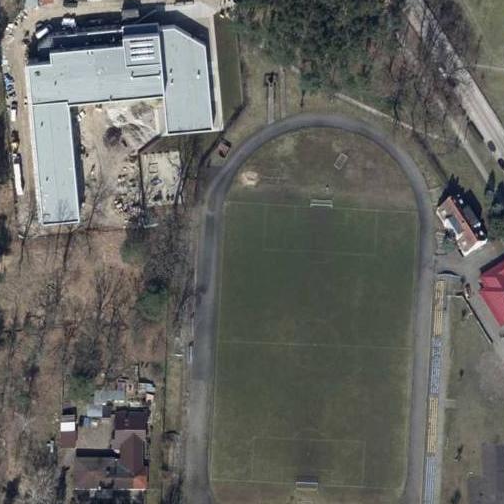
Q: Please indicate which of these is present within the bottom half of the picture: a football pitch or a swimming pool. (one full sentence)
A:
There is a football pitch within the bottom half of the picture.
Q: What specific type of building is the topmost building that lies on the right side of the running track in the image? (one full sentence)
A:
What you see as the topmost building that lies on the right side of the running track is a house.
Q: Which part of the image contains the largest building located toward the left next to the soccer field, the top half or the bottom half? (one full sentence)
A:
The largest building located toward the left next to the soccer field is in the top half of the image.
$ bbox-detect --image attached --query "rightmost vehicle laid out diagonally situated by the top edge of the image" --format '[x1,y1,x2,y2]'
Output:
[34,22,54,40]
